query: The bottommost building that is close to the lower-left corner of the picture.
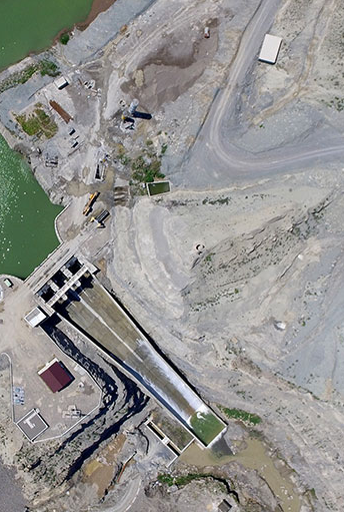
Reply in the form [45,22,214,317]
[17,406,48,441]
